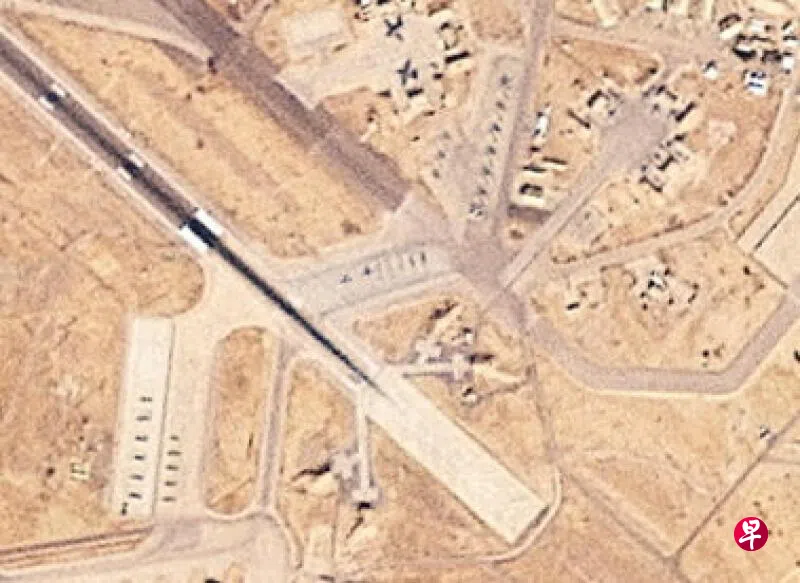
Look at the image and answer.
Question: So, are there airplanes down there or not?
Yes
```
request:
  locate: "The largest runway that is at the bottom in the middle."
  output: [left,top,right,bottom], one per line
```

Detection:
[313,306,550,546]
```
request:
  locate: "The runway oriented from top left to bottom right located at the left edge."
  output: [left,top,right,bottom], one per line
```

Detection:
[0,34,198,229]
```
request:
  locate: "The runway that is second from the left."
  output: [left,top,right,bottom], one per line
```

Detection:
[187,214,386,392]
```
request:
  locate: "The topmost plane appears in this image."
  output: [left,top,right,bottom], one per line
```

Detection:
[383,18,403,37]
